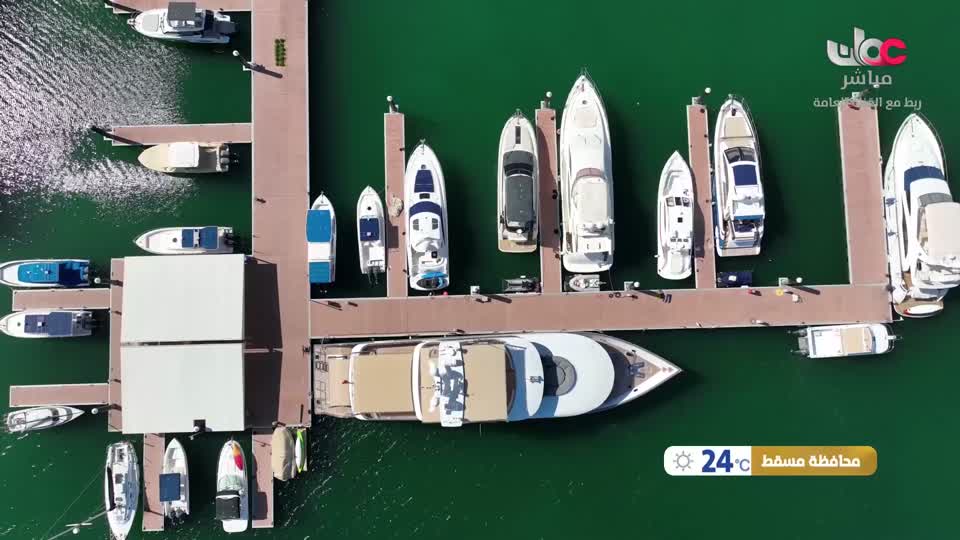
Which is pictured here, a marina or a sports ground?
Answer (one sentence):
It's a marina.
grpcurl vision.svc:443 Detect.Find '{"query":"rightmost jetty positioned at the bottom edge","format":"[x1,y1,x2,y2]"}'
[251,432,274,527]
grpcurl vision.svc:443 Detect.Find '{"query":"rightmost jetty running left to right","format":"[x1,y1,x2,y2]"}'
[310,284,889,338]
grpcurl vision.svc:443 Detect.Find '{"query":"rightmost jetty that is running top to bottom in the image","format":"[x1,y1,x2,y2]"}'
[836,105,883,284]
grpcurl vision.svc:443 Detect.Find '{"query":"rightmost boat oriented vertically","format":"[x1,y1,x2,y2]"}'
[869,111,960,322]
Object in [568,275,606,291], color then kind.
white boat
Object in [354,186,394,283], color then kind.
white boat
